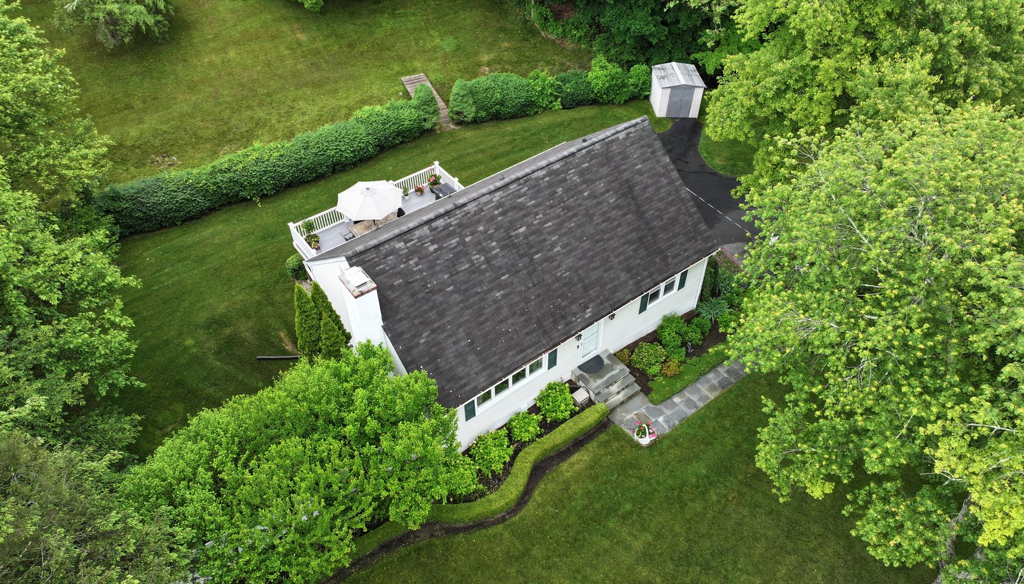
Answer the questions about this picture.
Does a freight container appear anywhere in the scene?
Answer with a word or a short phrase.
No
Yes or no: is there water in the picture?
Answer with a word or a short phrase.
No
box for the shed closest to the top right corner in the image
[654,59,706,118]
